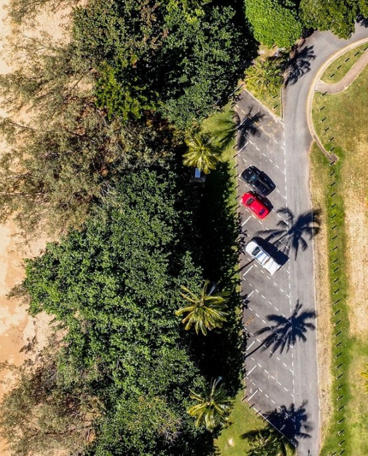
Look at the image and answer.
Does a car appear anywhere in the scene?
Yes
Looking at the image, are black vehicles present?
Yes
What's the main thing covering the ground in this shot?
trees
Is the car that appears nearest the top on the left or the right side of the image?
right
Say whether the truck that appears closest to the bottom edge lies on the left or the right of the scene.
right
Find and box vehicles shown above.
[239,191,271,220]
[245,239,284,277]
[241,164,275,198]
